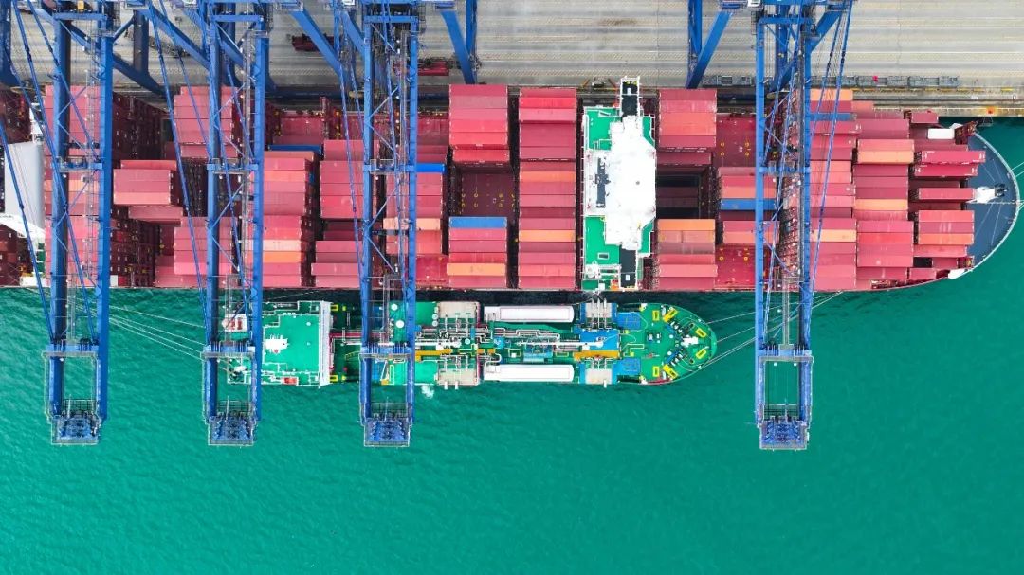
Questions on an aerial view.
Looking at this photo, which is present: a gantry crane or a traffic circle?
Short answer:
gantry crane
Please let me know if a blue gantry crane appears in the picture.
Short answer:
Yes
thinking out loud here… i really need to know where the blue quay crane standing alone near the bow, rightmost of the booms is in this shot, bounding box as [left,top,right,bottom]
[682,0,856,449]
